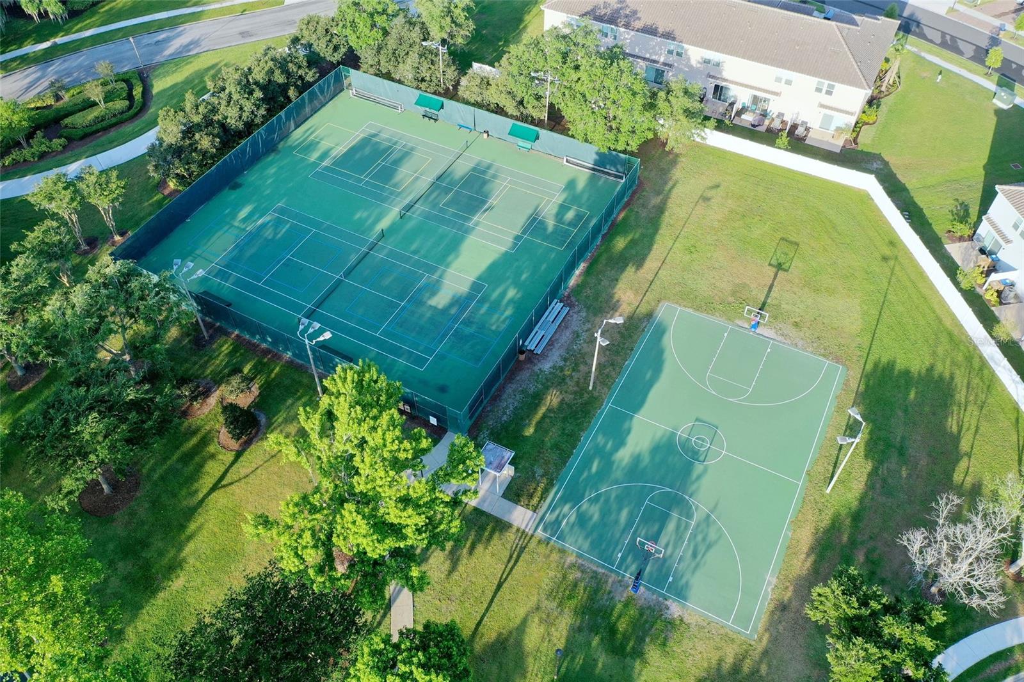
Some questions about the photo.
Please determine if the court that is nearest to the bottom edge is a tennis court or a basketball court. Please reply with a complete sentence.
The court that is nearest to the bottom edge in the image is a basketball court.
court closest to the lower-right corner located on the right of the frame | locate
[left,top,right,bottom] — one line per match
[528,298,849,641]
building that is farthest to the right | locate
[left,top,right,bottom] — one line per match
[974,183,1024,305]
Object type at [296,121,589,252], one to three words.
tennis court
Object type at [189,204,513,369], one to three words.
tennis court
